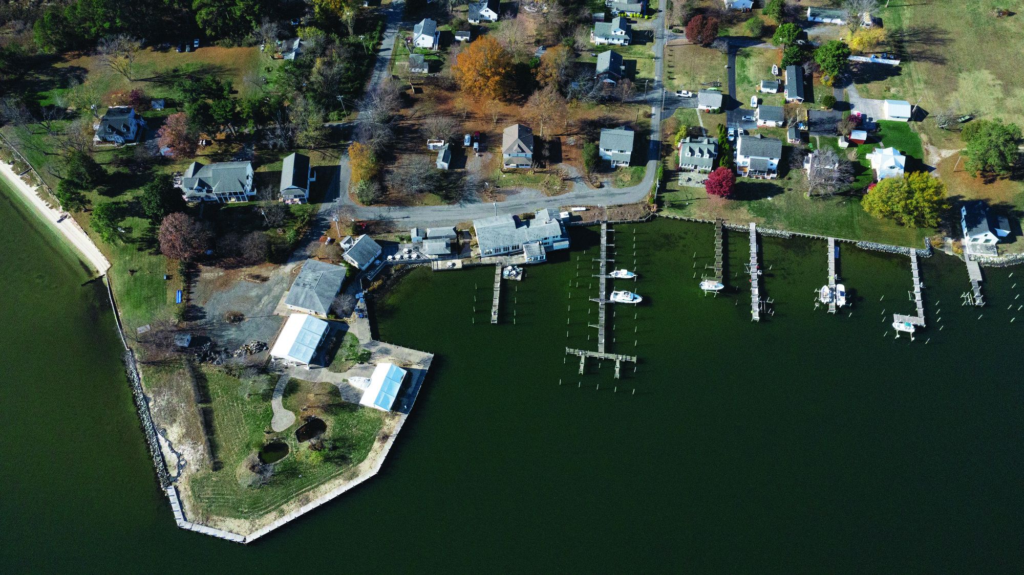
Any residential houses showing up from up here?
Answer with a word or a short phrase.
Yes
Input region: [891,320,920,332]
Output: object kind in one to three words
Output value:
boat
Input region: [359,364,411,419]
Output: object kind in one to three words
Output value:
tent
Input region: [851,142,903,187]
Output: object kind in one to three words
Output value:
house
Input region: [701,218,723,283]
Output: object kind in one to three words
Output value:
pier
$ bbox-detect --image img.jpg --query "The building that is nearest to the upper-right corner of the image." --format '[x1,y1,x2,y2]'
[880,99,911,126]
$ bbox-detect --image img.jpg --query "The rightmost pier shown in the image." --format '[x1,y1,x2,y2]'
[961,244,986,309]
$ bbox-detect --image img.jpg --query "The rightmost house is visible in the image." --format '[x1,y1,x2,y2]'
[953,198,1016,247]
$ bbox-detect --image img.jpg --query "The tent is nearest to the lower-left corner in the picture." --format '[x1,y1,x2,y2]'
[271,314,335,372]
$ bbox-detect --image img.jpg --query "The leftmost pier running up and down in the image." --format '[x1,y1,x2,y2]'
[490,265,503,325]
